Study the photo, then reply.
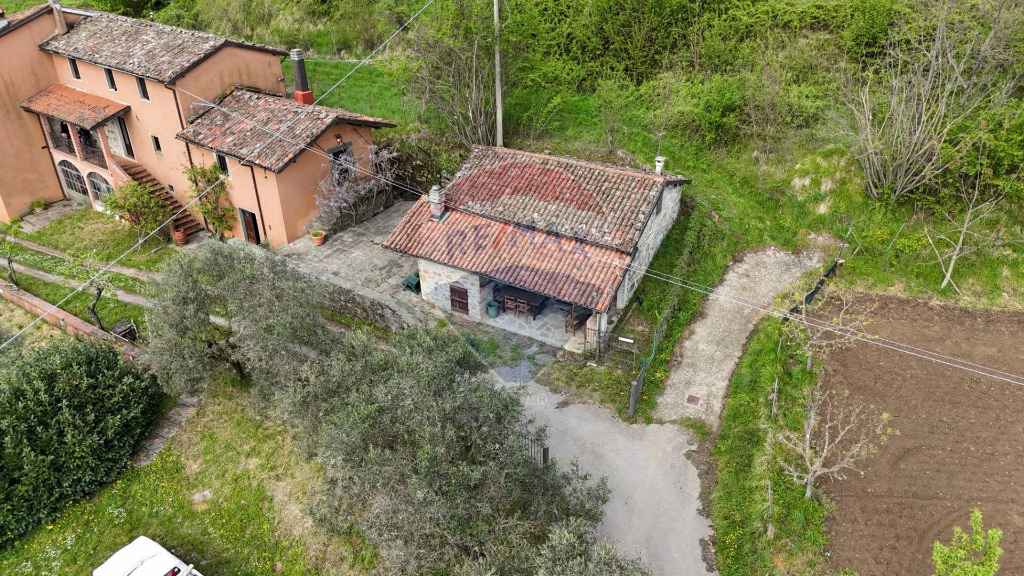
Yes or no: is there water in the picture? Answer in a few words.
No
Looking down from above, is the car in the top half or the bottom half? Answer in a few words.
bottom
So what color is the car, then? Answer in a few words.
white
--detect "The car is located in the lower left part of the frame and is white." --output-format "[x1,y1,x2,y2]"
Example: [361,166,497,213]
[87,531,179,576]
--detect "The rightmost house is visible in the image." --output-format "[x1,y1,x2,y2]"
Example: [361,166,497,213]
[381,143,695,366]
